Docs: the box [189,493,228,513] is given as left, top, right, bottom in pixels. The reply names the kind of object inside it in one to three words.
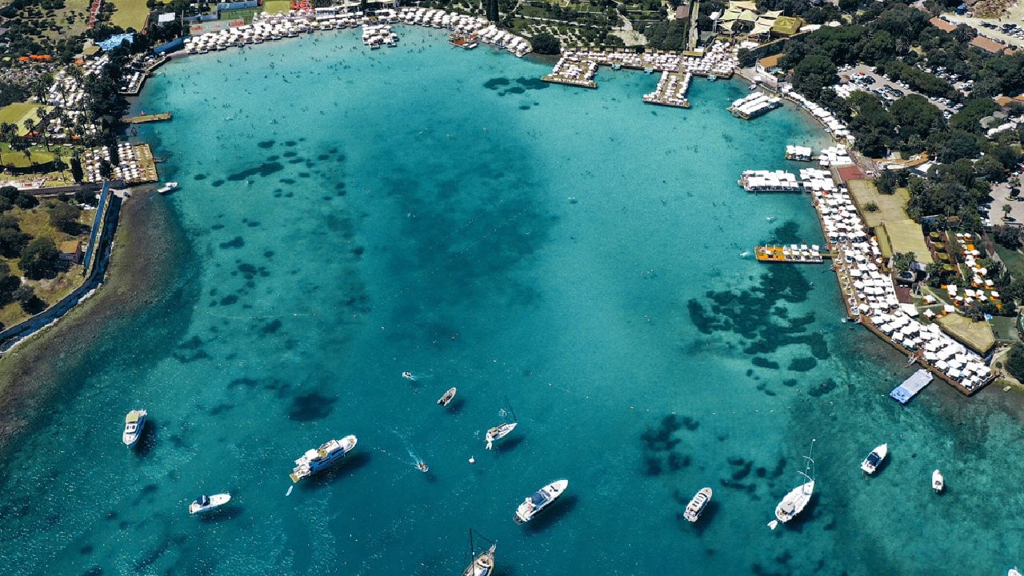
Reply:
boat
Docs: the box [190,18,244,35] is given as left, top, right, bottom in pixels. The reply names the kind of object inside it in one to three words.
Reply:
basketball court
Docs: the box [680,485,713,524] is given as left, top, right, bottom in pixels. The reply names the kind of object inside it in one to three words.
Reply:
boat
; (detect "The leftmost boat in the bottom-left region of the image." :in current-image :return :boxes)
[125,407,148,442]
